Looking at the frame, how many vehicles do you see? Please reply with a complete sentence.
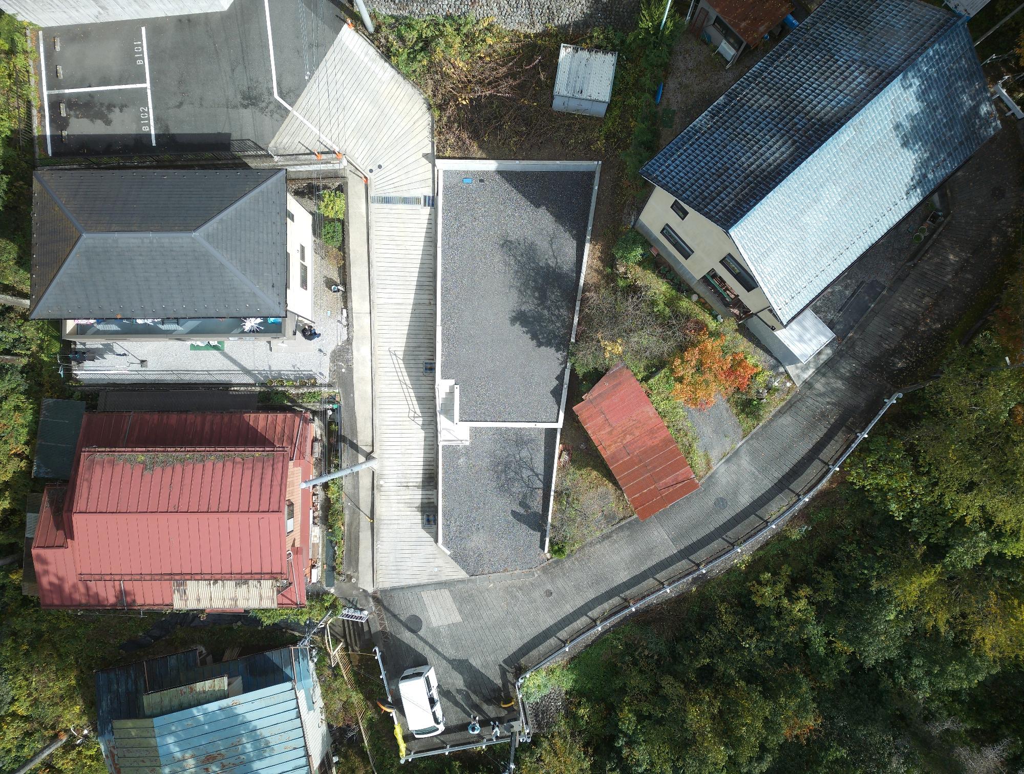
My tally gives 1 vehicle in this photo.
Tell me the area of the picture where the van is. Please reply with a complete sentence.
The van is in the bottom part of the image.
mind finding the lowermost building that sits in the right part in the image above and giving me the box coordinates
[572,361,701,521]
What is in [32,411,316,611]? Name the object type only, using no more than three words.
house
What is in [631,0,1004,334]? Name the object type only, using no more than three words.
house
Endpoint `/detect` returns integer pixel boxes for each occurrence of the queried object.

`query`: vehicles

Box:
[403,671,445,743]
